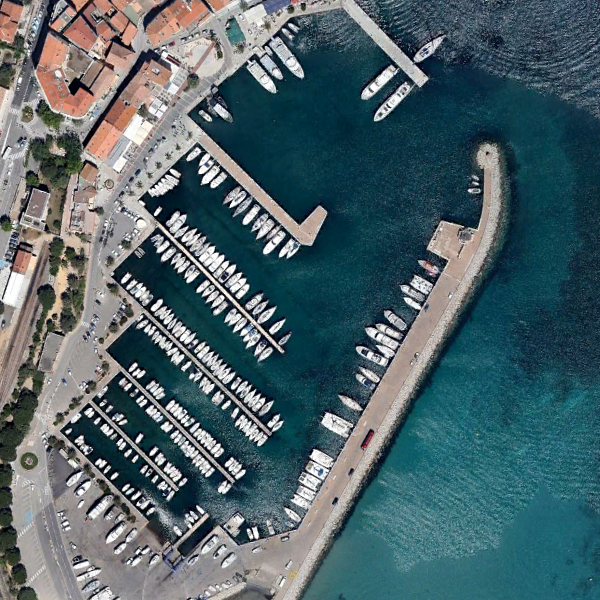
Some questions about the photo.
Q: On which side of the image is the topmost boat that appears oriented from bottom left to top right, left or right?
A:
right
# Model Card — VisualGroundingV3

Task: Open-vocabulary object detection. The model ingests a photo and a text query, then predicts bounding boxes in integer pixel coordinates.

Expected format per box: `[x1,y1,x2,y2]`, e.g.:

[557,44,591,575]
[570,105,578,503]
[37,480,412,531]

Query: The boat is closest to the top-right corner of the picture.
[412,35,447,64]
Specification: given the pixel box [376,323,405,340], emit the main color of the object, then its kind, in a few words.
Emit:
white boat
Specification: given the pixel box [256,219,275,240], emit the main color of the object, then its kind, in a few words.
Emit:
white boat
